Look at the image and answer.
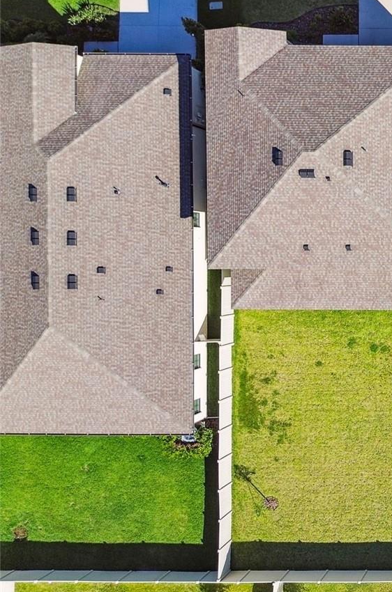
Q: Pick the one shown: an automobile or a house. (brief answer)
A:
house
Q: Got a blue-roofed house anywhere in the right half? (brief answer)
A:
No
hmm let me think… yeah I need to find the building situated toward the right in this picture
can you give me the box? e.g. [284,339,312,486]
[204,25,392,310]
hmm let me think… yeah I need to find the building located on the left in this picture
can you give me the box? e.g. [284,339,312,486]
[0,41,206,435]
